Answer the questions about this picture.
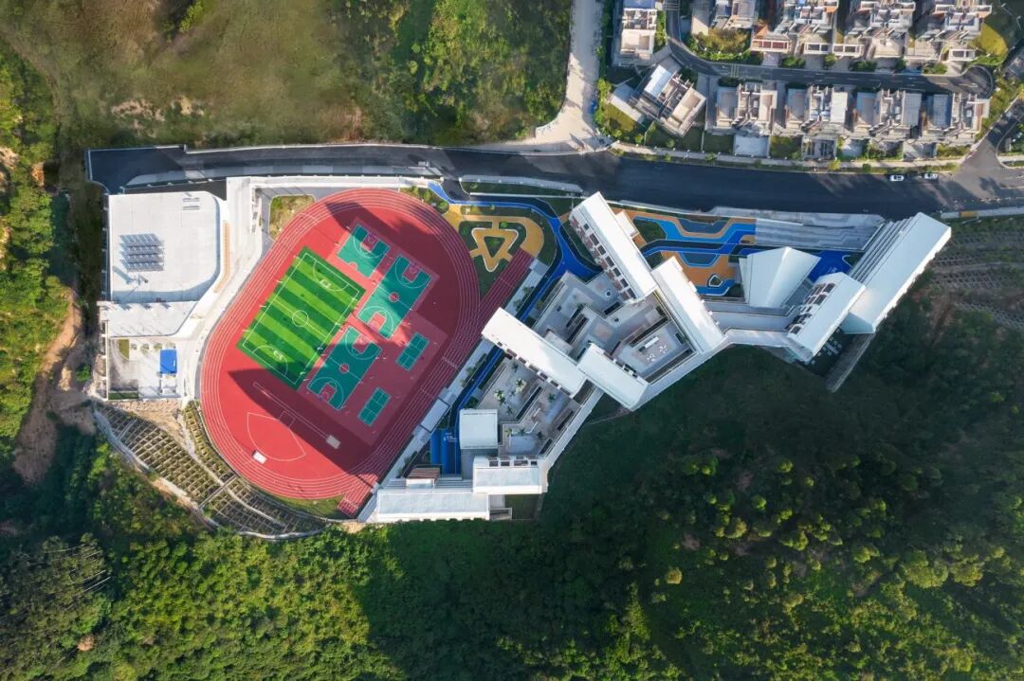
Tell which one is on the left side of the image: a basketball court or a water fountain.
basketball court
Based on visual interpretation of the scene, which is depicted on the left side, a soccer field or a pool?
soccer field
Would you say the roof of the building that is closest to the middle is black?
No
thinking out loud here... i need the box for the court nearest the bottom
[358,387,391,426]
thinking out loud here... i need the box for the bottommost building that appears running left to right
[376,479,491,521]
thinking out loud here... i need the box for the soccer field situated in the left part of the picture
[236,246,366,390]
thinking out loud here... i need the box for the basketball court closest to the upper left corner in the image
[338,225,390,277]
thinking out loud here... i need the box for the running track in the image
[198,188,533,518]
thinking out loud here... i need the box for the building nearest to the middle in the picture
[479,307,587,402]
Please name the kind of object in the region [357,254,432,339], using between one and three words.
basketball court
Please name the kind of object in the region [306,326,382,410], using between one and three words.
basketball court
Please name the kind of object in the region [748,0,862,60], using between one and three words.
house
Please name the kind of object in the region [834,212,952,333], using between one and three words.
building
